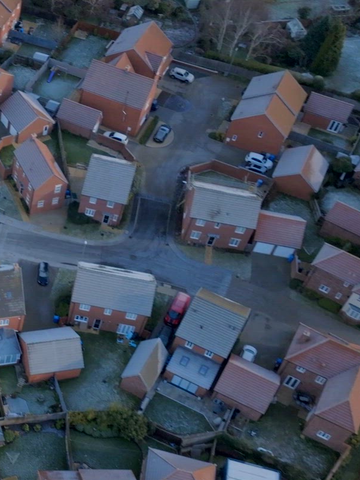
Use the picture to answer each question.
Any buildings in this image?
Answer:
Yes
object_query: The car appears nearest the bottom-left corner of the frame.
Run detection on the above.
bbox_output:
[37,264,50,285]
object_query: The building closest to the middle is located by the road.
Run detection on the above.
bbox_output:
[183,182,261,250]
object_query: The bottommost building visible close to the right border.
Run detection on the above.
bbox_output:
[277,322,360,452]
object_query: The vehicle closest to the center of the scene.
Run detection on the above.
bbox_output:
[170,296,193,322]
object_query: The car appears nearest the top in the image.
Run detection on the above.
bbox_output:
[170,68,195,83]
